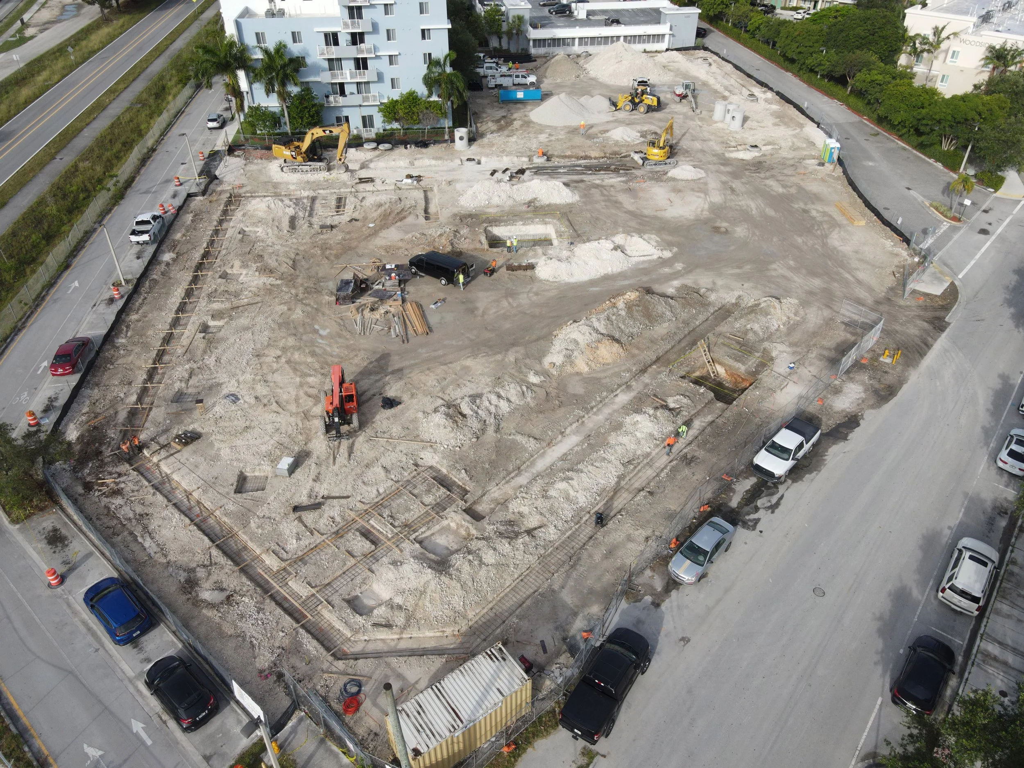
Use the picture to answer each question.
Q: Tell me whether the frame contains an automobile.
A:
Yes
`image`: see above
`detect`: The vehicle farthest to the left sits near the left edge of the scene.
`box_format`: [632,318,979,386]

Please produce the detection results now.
[48,328,96,366]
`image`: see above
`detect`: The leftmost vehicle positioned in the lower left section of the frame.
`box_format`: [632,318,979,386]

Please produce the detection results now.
[78,573,150,644]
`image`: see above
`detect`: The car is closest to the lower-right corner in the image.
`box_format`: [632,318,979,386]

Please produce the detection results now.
[896,625,967,712]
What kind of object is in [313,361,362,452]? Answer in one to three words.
work vehicle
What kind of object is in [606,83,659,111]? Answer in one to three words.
work vehicle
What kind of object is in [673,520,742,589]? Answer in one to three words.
car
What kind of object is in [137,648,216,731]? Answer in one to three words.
car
